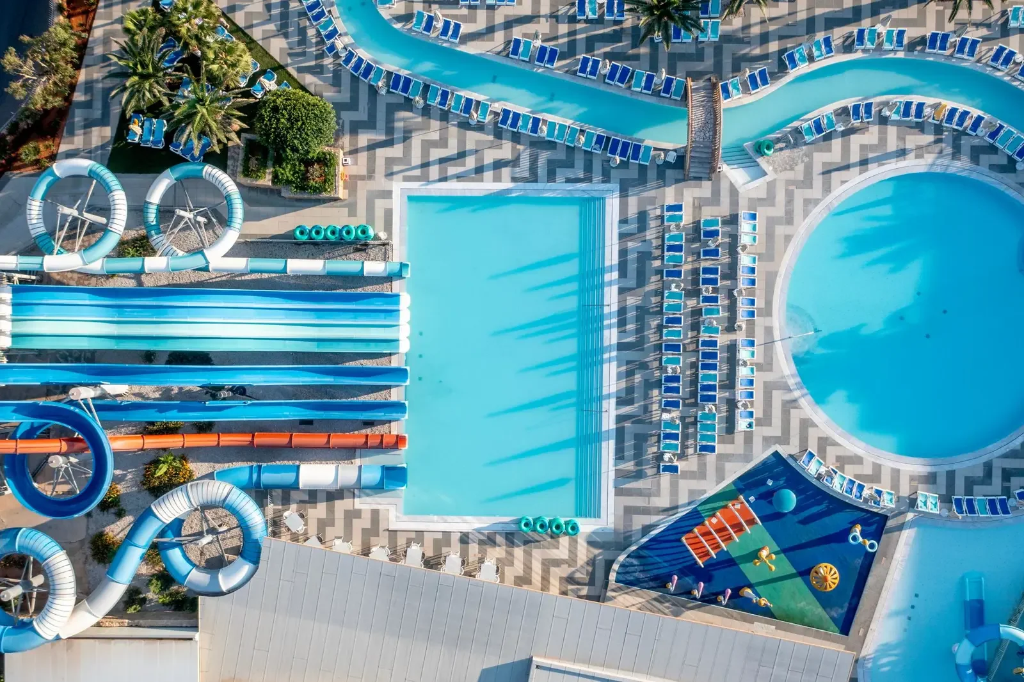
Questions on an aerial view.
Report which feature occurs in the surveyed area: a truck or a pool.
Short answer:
pool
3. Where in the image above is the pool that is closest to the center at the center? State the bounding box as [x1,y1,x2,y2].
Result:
[403,196,605,516]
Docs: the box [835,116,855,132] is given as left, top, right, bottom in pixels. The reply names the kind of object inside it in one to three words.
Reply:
umbrella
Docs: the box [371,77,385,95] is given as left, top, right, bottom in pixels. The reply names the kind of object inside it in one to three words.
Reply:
umbrella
